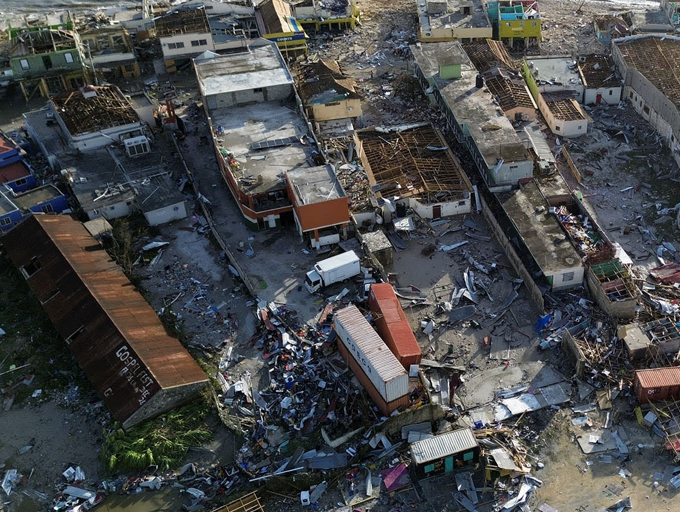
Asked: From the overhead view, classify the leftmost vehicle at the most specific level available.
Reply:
truck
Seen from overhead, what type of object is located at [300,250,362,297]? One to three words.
truck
